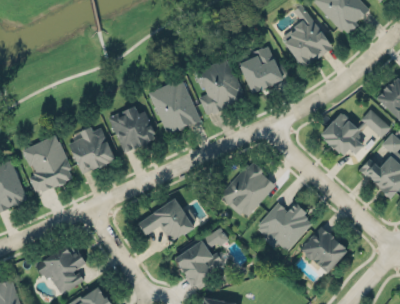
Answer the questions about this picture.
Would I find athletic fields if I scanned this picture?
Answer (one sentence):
No, the photo shows no athletic field.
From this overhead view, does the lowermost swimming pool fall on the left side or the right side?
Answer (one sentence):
The lowermost swimming pool sits on the left side.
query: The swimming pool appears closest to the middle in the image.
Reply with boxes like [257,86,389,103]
[190,200,208,229]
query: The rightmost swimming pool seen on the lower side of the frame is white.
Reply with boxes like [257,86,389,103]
[296,257,326,284]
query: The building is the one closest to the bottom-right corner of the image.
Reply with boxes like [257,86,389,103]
[302,228,348,274]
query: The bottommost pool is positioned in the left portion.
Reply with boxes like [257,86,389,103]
[35,276,56,302]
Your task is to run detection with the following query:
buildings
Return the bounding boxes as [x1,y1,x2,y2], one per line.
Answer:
[24,138,73,188]
[360,132,400,200]
[174,240,214,292]
[206,228,228,250]
[72,129,113,173]
[302,228,348,274]
[283,6,332,66]
[258,204,316,255]
[241,46,284,94]
[225,166,278,220]
[378,80,400,122]
[320,108,393,160]
[315,0,370,36]
[136,198,195,242]
[110,105,154,151]
[196,62,242,117]
[150,79,202,134]
[38,248,90,298]
[0,280,22,304]
[0,162,26,212]
[72,288,110,304]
